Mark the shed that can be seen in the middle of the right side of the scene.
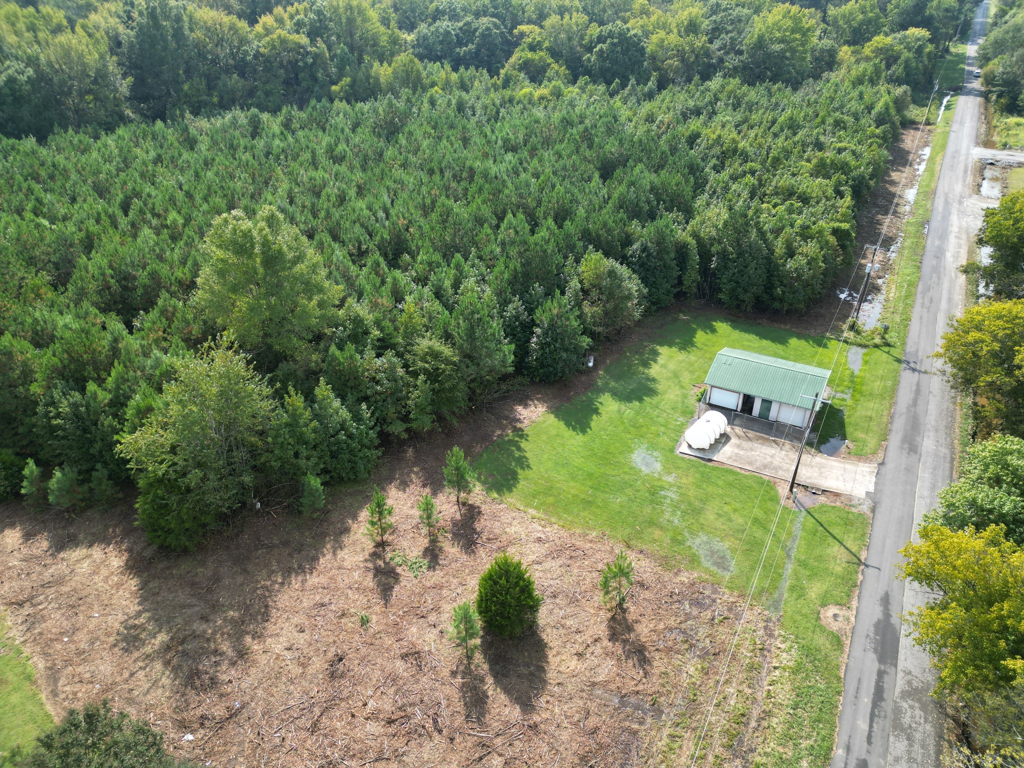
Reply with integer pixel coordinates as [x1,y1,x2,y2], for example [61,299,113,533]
[704,347,832,428]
